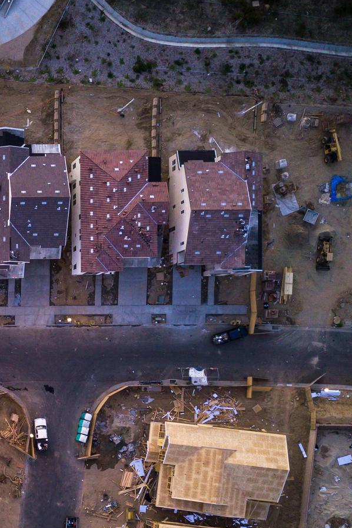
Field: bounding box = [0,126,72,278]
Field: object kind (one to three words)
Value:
house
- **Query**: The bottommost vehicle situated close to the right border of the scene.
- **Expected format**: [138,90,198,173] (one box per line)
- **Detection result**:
[319,228,340,270]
